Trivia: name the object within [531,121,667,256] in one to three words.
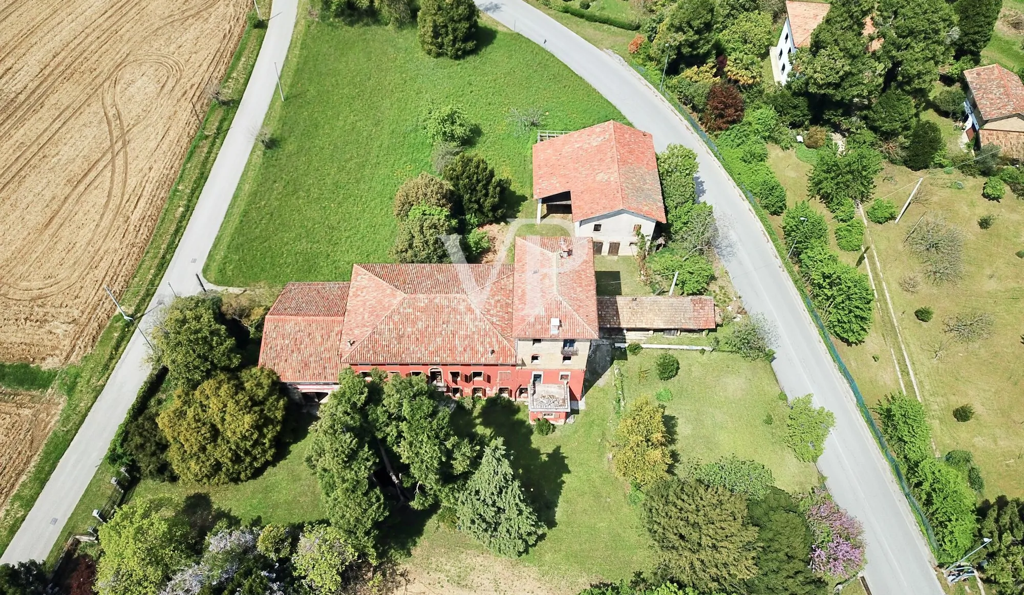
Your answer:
barn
